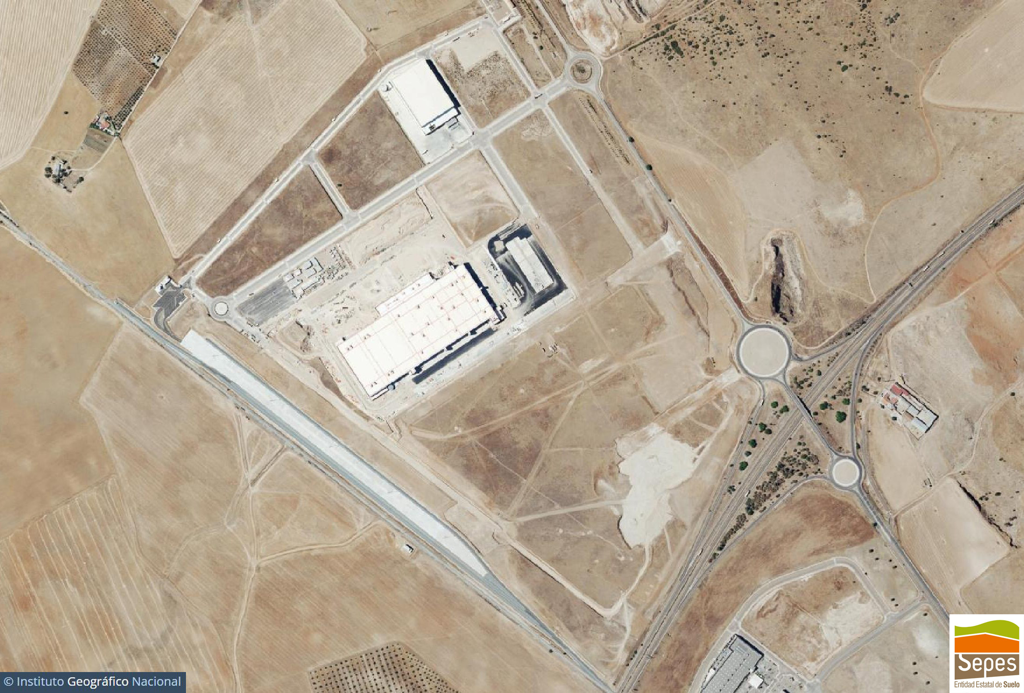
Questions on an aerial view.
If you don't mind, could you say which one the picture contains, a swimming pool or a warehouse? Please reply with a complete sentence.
Of the two, only a warehouse appears.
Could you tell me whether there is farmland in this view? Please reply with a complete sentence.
Yes, farmland shows up in the scene.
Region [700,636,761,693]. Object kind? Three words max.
building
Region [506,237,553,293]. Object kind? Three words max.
building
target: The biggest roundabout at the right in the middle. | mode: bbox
[736,324,793,381]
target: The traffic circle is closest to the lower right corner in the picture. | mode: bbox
[829,455,864,490]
